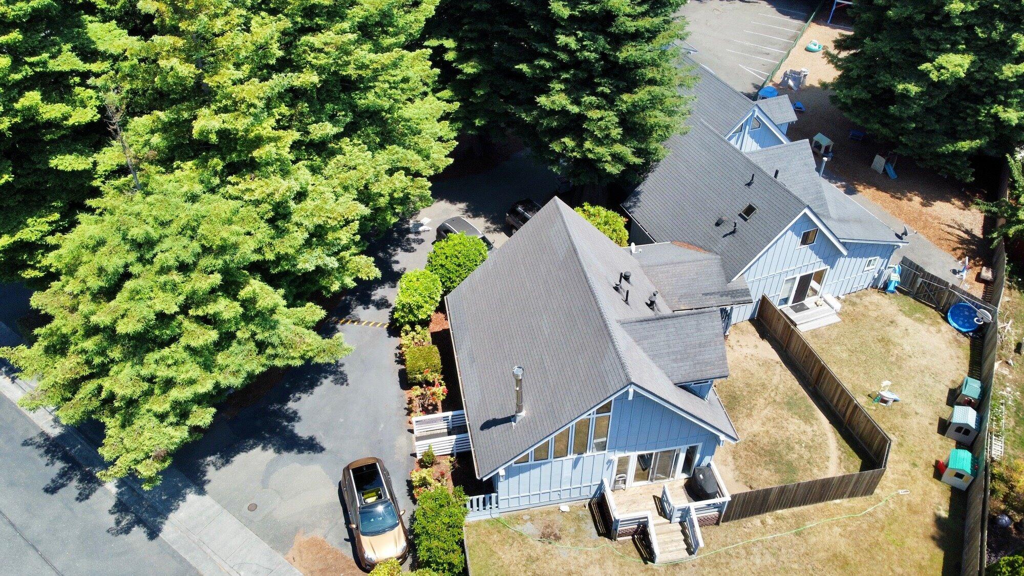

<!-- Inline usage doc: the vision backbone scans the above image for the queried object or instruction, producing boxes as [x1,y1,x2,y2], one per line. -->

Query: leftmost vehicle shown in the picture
[344,460,410,572]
